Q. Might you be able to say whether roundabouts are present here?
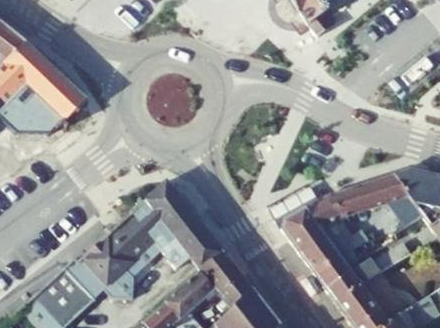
Yes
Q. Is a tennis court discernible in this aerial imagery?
No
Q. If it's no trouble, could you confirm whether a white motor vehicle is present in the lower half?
Yes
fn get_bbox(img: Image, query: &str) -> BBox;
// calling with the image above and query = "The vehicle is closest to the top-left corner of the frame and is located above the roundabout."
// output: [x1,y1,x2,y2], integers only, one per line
[118,6,139,28]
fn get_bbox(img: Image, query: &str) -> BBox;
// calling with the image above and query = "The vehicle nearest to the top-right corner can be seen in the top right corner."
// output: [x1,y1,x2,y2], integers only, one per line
[398,0,417,18]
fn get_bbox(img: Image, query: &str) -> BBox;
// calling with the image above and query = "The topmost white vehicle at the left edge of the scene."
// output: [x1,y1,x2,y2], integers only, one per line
[4,184,22,202]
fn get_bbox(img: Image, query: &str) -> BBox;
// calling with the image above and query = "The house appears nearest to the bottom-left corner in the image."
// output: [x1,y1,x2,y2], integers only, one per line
[30,271,96,328]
